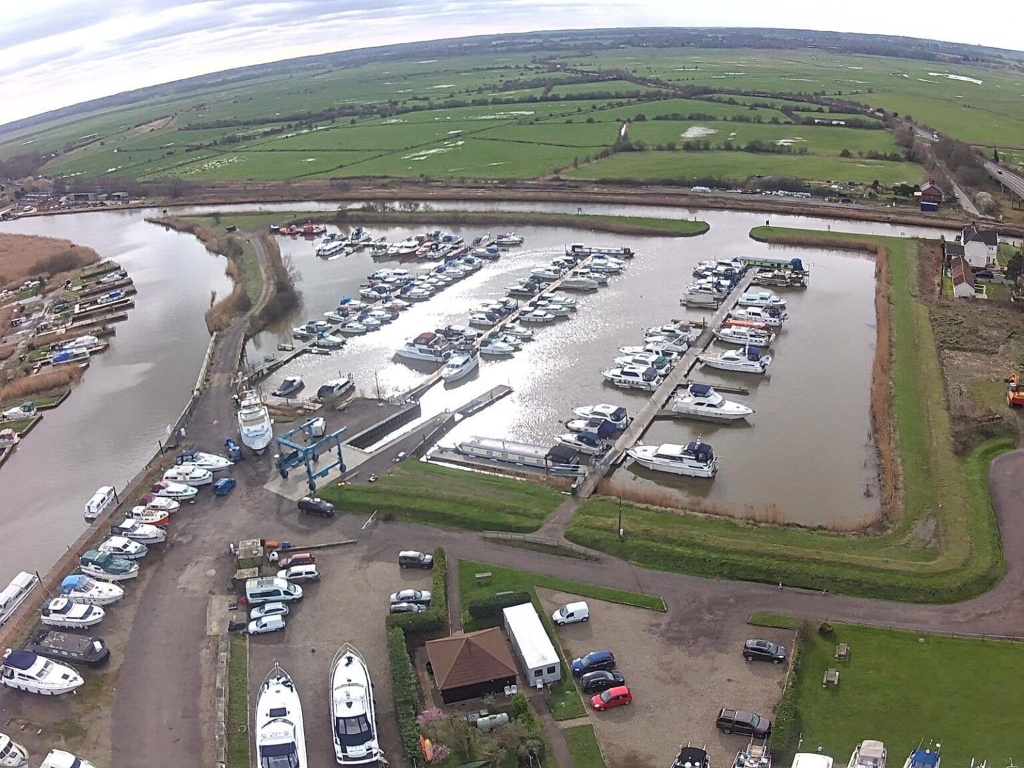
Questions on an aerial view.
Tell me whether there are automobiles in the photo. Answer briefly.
Yes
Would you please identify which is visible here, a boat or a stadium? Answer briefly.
boat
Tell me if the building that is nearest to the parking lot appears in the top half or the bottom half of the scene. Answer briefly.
bottom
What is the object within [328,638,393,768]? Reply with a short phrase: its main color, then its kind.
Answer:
white boat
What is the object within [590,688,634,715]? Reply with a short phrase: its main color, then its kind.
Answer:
red car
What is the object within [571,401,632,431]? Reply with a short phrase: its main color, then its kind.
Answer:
white boat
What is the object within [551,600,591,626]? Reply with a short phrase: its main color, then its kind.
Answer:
white vehicle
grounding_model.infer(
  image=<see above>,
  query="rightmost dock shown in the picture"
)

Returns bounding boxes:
[614,269,759,451]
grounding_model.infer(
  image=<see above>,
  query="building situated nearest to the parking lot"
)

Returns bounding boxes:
[502,602,561,688]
